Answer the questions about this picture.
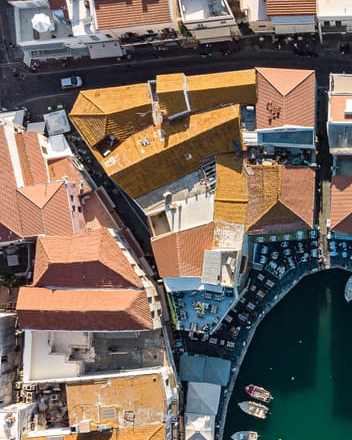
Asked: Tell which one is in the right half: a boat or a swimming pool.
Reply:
boat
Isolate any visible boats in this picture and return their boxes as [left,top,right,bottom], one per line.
[344,277,352,302]
[242,387,272,404]
[222,431,260,440]
[235,402,269,419]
